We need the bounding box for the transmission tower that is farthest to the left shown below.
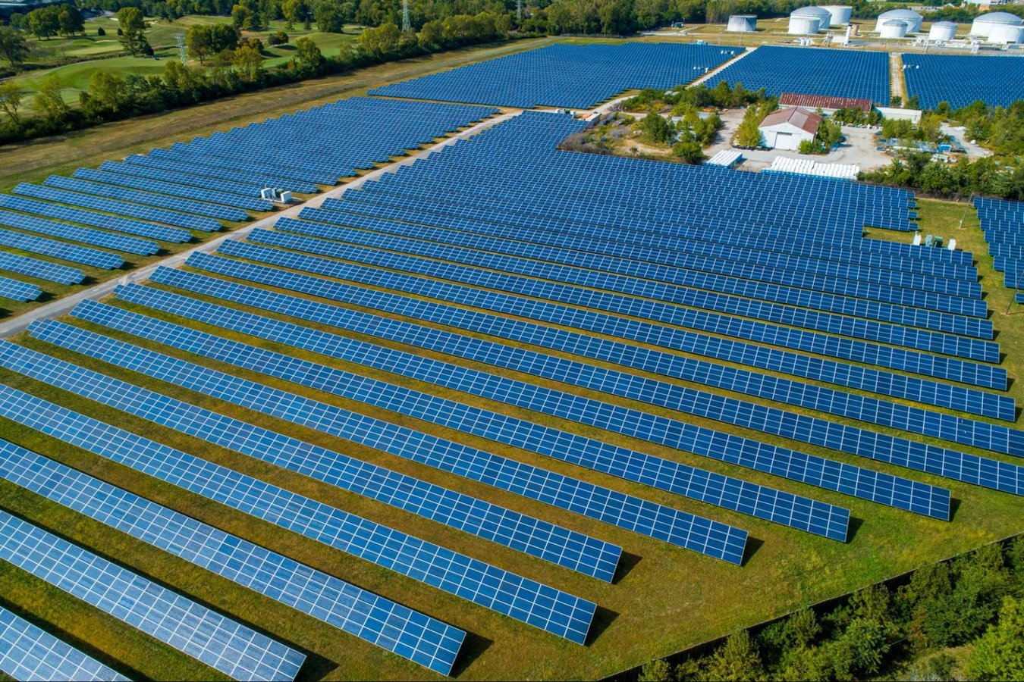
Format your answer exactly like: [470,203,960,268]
[172,32,189,63]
